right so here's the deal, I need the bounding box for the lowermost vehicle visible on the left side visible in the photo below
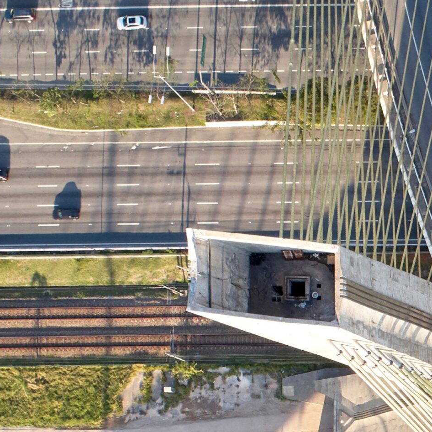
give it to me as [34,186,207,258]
[54,206,81,221]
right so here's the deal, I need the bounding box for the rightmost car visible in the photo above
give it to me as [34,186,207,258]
[117,15,147,30]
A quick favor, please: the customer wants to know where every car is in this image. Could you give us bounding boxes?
[5,6,37,23]
[54,206,81,221]
[117,15,147,30]
[0,168,8,183]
